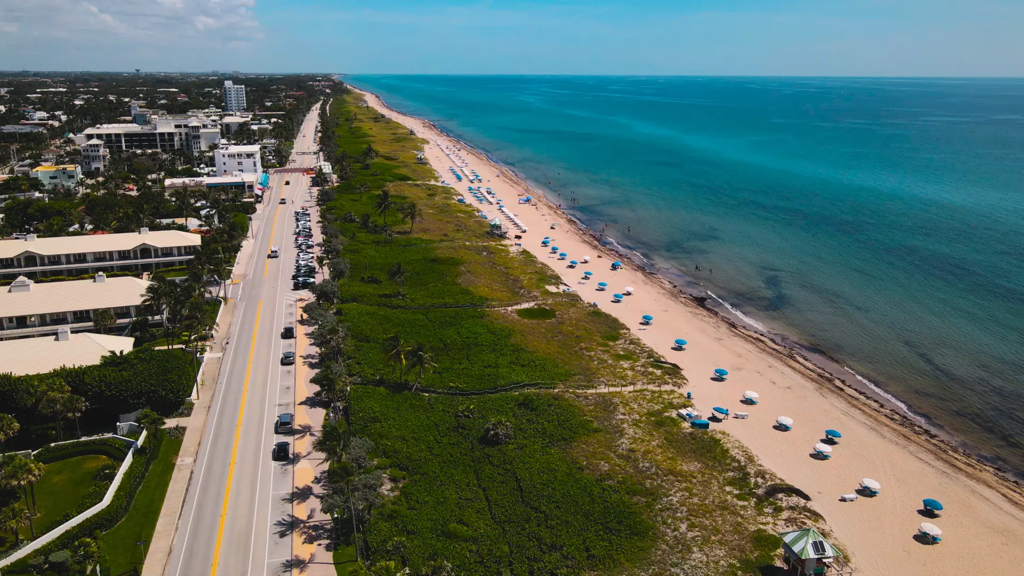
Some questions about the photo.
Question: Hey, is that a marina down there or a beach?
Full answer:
This looks like a beach.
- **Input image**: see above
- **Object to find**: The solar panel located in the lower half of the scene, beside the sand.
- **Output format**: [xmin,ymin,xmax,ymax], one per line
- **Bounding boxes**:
[806,533,826,554]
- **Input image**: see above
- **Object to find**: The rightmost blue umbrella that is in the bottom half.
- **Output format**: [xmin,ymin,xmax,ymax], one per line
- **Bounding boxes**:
[922,500,944,519]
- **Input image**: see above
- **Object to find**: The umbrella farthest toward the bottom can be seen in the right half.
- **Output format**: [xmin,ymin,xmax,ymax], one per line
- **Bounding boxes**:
[919,524,943,546]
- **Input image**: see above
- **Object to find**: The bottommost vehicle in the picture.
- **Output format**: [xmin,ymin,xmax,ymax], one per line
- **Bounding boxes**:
[274,434,293,457]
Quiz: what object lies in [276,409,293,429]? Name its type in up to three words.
car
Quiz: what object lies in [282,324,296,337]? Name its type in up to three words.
vehicle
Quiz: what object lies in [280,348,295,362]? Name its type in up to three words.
car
